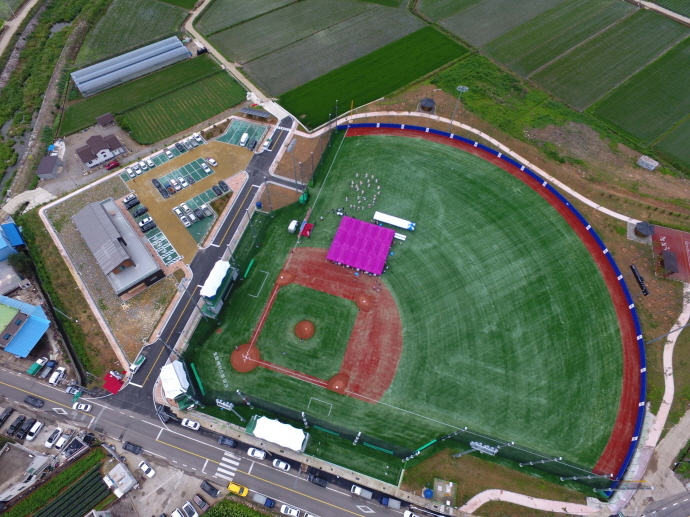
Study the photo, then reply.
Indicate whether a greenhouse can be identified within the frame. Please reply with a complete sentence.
Yes, the image includes a greenhouse.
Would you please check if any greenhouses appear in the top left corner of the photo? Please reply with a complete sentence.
Yes, looking in the top left corner of the photo, one can make out a greenhouse.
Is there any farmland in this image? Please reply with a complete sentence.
Yes, farmland can be seen from above here.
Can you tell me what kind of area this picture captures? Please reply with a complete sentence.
The area seen from above is a sports ground.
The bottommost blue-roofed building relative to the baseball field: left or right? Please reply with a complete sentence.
Relative to the baseball field, the bottommost blue-roofed building lies to the left.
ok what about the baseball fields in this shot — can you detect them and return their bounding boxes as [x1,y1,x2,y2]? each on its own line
[180,127,639,498]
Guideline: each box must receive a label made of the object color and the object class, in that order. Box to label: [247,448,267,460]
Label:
white vehicle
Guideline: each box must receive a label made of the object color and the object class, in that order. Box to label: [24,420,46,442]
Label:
white vehicle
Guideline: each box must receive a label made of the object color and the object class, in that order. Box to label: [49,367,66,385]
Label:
white car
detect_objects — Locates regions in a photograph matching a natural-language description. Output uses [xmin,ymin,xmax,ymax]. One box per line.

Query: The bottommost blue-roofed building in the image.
[0,295,59,357]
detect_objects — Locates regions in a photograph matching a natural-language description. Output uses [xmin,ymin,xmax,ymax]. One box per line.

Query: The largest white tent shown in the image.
[373,212,416,235]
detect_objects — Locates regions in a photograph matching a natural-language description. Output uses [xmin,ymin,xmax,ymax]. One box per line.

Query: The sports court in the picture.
[653,225,690,283]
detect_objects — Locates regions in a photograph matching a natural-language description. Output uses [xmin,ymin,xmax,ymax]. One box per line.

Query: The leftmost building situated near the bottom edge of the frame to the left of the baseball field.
[0,443,53,501]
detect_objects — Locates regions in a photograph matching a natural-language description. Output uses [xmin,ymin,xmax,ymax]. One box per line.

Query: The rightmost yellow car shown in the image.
[228,483,248,496]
